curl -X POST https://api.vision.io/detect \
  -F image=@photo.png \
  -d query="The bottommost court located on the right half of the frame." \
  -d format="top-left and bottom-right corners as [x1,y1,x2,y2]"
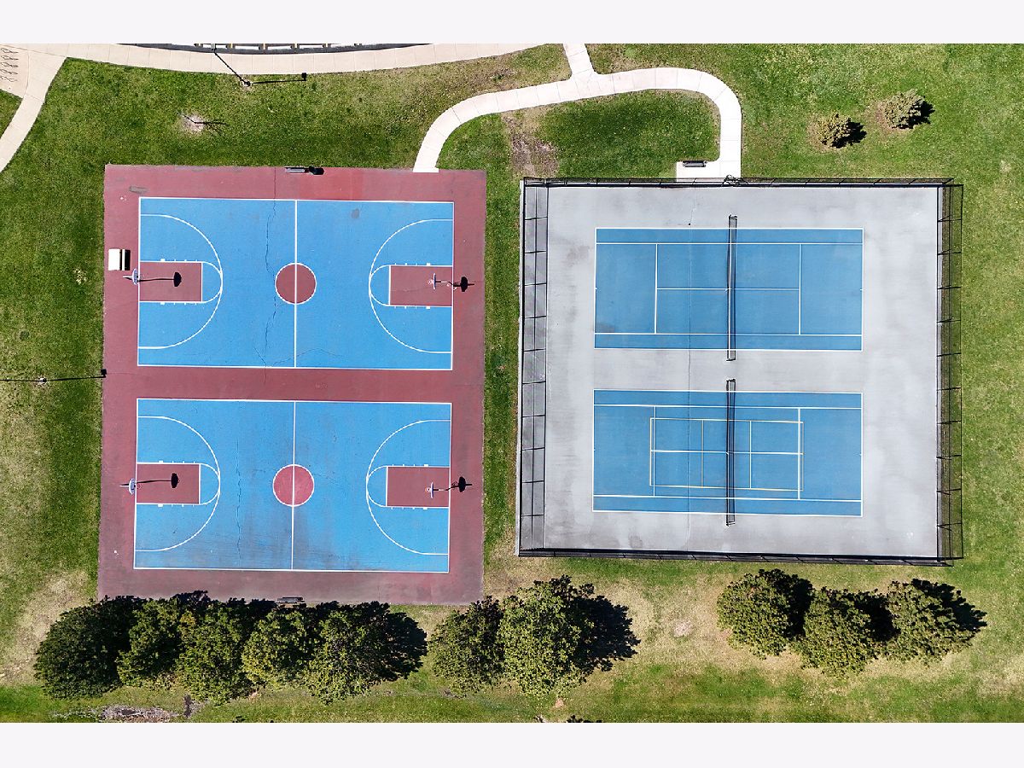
[592,389,863,517]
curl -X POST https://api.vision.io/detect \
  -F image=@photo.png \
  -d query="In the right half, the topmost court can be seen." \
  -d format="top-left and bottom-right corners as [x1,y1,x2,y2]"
[594,227,864,351]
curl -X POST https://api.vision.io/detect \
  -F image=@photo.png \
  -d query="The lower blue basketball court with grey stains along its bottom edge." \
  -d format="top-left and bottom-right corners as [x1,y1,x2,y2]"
[133,399,452,573]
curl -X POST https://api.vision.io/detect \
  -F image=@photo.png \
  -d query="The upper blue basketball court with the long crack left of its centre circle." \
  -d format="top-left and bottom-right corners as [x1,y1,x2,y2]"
[137,198,454,371]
